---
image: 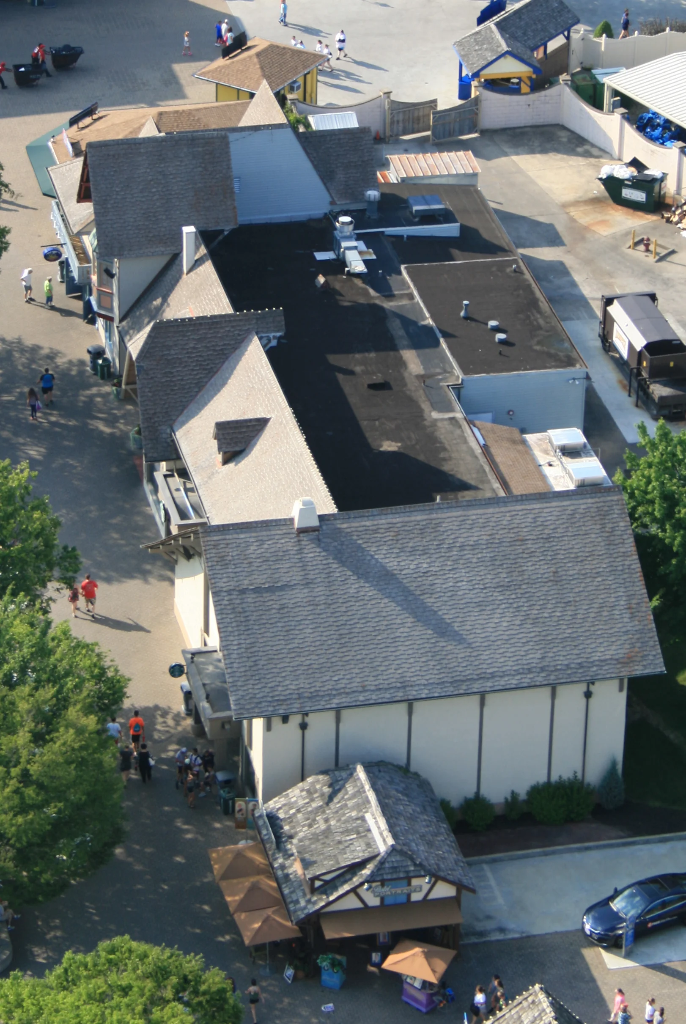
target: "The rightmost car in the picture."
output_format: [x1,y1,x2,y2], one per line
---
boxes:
[577,870,686,947]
